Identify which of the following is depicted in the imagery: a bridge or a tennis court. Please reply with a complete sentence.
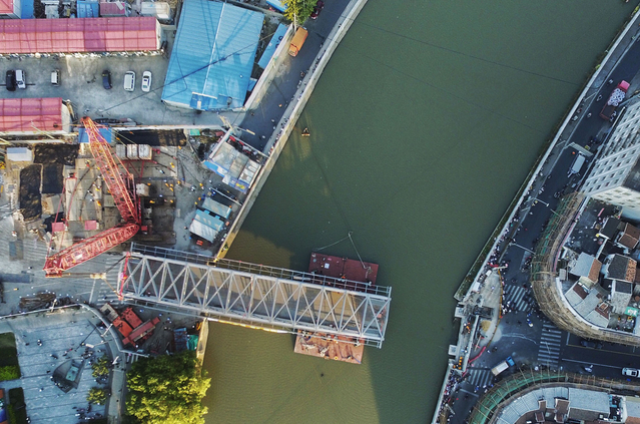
I can see a bridge in this picture.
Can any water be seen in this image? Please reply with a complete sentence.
Yes, water can be seen from above here.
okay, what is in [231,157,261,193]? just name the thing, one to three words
building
